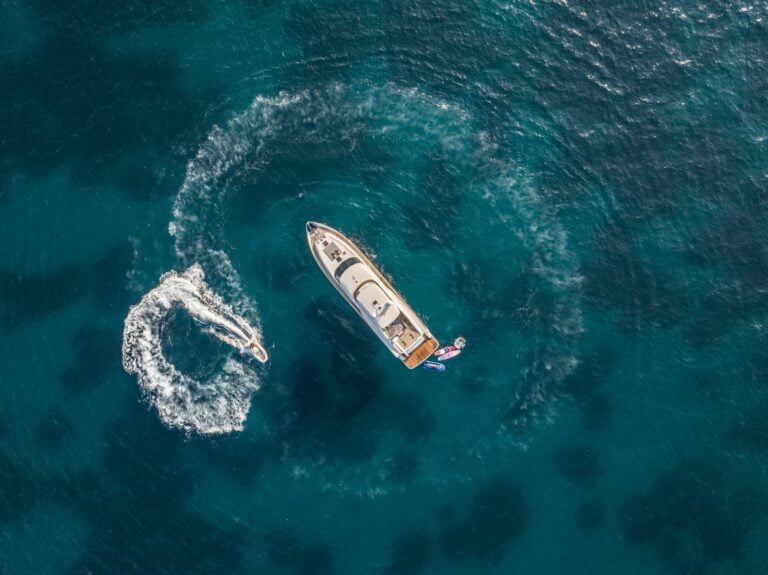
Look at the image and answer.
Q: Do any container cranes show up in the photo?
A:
No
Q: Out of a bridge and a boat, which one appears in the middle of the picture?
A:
boat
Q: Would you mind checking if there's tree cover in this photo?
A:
No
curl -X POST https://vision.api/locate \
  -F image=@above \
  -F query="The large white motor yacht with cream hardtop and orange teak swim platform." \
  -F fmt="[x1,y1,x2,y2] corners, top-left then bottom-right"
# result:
[305,220,437,367]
